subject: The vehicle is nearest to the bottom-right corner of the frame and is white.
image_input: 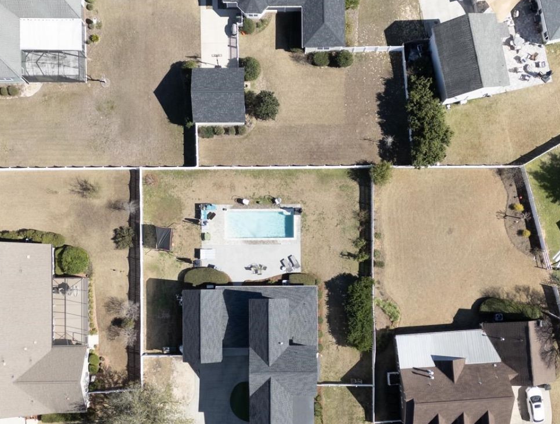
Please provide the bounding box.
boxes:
[521,385,539,420]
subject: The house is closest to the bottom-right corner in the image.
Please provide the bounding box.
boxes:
[387,320,556,424]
